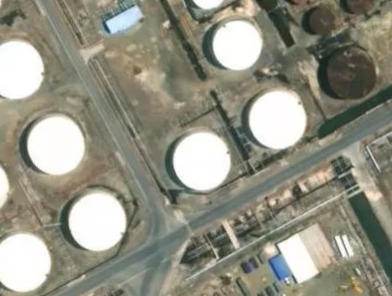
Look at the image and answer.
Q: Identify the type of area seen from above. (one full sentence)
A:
What you see here is an industrial area.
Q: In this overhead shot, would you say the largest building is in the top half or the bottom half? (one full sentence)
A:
Seen from above, the largest building lies in the bottom half of the view.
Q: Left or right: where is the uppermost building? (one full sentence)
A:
The uppermost building sits on the left side.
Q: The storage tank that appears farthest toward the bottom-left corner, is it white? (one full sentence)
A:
Yes, the storage tank that appears farthest toward the bottom-left corner is indeed white.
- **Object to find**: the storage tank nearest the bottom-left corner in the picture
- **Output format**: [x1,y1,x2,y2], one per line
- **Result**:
[0,232,52,294]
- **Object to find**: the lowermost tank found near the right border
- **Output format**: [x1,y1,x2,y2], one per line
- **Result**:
[325,47,379,102]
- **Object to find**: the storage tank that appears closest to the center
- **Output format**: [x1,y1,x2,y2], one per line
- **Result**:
[172,131,233,193]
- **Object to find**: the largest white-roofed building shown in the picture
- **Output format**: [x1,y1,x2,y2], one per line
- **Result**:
[276,222,337,283]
